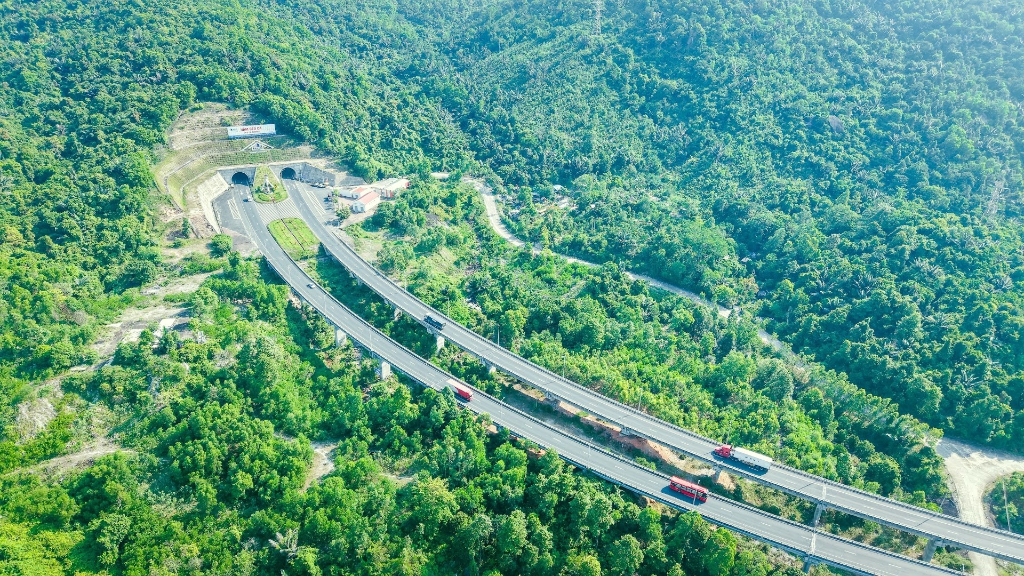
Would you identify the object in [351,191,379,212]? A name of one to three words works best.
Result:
building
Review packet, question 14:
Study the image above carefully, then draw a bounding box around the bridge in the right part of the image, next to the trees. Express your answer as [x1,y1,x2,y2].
[323,240,1024,568]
